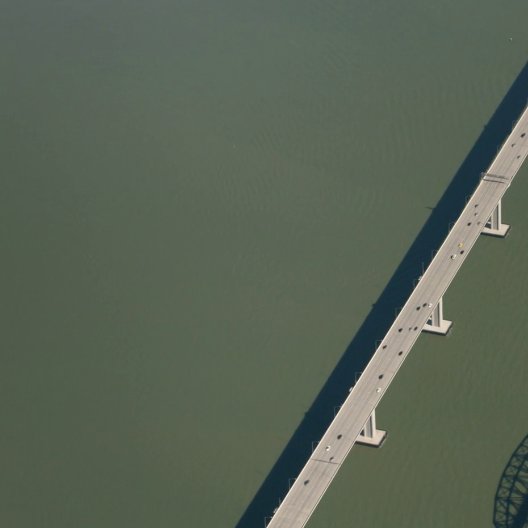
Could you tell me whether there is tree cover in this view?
No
